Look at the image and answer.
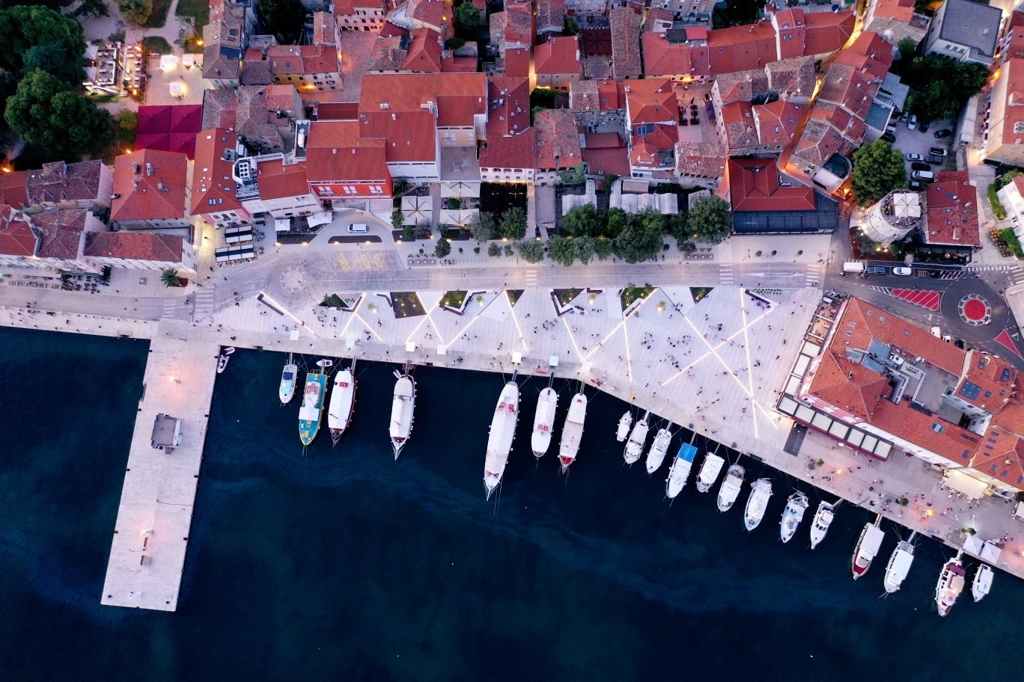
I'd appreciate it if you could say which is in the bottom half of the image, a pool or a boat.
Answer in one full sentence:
It is a boat that can be seen in the bottom half of the image.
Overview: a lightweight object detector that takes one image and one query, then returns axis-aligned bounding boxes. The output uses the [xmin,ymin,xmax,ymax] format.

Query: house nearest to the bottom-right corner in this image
[952,426,1024,494]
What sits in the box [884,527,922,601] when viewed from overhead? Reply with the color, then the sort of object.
white boat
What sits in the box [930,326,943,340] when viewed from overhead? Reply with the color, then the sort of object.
white vehicle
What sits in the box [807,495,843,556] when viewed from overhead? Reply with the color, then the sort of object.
white boat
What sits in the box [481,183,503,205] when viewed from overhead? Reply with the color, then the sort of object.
black umbrella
